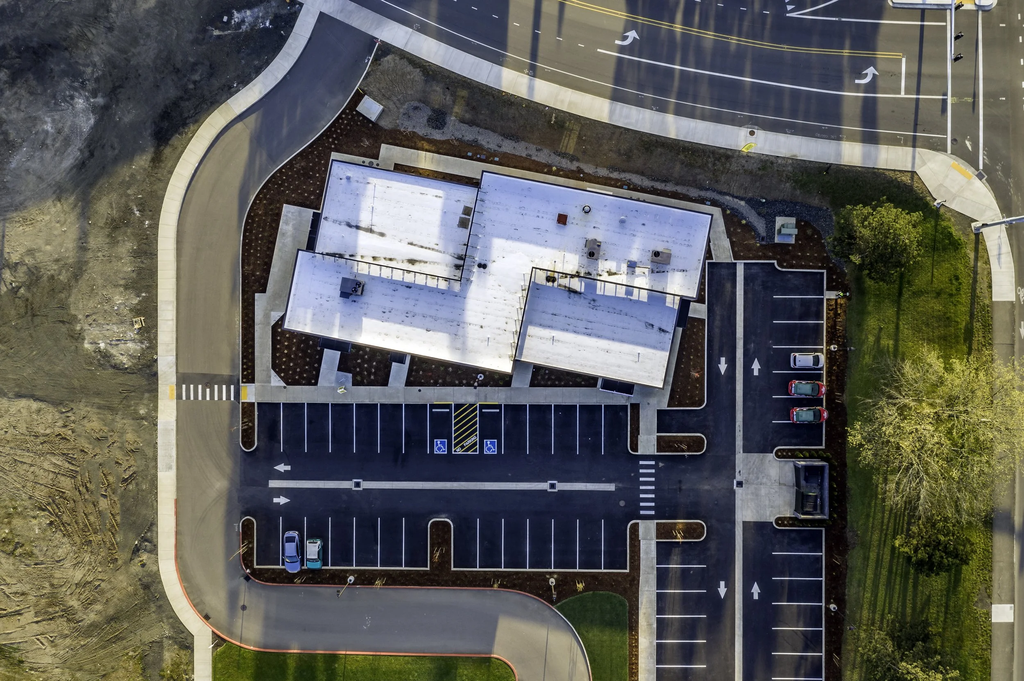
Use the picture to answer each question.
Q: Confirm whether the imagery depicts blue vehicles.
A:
Yes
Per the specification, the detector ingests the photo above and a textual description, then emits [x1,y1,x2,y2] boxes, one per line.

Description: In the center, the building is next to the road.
[278,159,717,396]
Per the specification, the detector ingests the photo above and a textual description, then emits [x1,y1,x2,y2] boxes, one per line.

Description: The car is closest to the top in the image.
[788,351,822,370]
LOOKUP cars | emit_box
[282,529,302,571]
[788,351,822,370]
[788,406,825,425]
[787,380,824,399]
[306,536,324,568]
